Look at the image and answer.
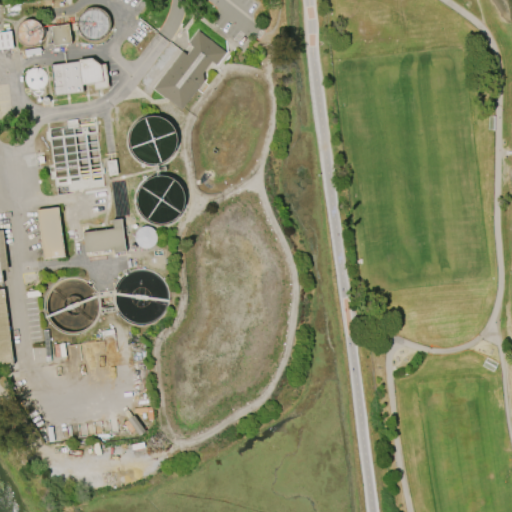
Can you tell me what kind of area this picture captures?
industrial area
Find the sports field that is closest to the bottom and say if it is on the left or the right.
right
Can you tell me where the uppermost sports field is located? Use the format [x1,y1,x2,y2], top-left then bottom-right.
[337,48,492,290]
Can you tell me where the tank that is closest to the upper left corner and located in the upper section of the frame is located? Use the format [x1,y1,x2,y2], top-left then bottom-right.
[18,18,46,46]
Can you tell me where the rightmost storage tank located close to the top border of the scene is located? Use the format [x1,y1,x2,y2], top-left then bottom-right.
[78,6,111,39]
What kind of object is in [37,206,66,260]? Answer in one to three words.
building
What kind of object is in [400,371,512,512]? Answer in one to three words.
sports field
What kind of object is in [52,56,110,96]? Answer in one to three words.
building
